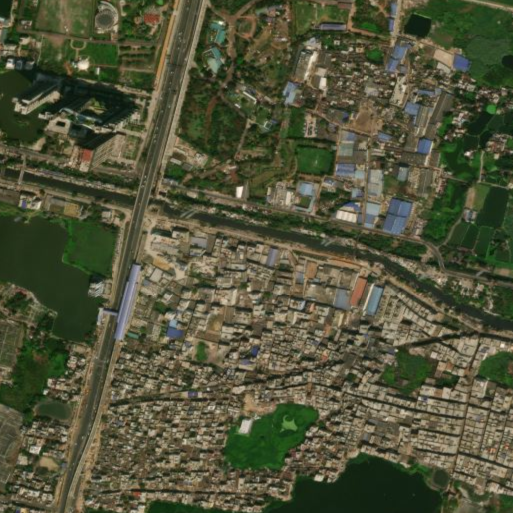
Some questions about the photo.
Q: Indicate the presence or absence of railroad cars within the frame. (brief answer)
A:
No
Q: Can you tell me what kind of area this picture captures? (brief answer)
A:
residential area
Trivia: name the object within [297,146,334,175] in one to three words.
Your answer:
sports field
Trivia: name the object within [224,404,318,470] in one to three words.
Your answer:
pond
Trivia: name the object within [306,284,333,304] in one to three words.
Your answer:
building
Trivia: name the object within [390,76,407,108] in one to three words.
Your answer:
building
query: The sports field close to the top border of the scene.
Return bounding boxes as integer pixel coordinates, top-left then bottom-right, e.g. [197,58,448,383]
[37,0,92,38]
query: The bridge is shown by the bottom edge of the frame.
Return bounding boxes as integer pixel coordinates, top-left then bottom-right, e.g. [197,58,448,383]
[67,340,121,513]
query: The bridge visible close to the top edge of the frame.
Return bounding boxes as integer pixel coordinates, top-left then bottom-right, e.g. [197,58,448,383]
[162,0,207,171]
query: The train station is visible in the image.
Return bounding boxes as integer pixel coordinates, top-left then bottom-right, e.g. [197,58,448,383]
[115,265,141,341]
